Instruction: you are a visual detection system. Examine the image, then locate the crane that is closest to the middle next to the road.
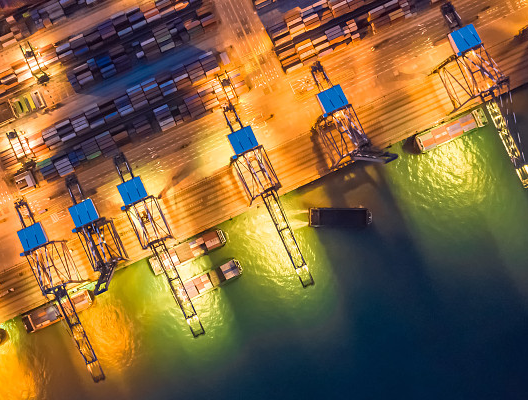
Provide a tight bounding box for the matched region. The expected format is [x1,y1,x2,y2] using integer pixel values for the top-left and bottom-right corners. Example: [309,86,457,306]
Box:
[219,101,315,290]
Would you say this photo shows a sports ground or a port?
port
